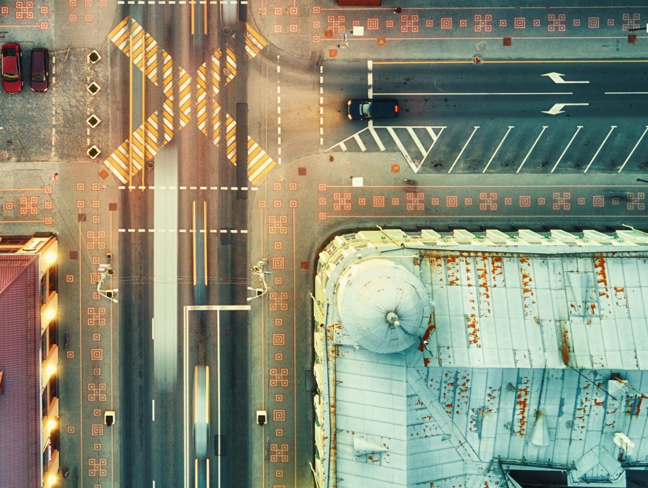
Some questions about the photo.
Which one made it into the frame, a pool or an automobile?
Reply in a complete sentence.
It is an automobile that can be seen here.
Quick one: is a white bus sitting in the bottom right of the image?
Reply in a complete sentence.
No, I see no white bus in the bottom right of the image.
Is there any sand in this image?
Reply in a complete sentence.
No, no sand is visible.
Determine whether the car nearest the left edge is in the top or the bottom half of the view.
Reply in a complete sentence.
You can find the car nearest the left edge in the top half.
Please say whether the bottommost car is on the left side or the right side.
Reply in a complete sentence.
The bottommost car sits on the left side.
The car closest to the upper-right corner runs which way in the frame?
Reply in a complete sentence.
The car closest to the upper-right corner is oriented from left to right.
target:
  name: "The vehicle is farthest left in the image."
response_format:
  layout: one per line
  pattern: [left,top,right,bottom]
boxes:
[0,43,23,93]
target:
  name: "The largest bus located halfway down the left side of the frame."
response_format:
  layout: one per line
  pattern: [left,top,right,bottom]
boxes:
[153,148,180,328]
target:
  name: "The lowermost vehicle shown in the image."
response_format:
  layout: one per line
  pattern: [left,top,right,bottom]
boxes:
[193,463,213,488]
